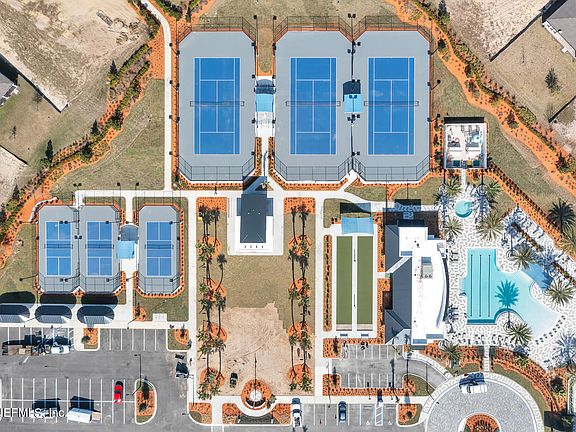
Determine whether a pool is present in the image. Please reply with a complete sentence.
Yes, a pool appears in the view.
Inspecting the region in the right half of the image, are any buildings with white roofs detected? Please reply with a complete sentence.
Yes, I can see a building with a white roof in the right half of the image.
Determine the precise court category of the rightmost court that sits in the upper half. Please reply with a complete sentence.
The rightmost court that sits in the upper half appears to be a tennis court.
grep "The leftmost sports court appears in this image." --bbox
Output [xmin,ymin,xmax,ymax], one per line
[39,206,78,291]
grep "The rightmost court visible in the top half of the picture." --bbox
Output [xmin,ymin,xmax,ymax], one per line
[353,31,430,180]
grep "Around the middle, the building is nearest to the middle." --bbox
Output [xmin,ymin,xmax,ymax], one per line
[236,195,273,253]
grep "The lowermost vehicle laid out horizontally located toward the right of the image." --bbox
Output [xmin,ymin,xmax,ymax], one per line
[462,381,488,394]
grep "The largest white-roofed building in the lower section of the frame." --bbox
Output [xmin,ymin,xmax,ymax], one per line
[384,220,453,354]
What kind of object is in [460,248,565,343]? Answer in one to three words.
swimming pool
